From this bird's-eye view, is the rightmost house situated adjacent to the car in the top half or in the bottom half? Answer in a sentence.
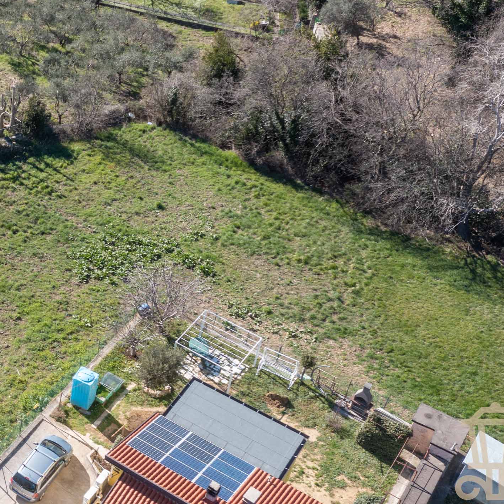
Seen from above, the rightmost house situated adjacent to the car lies in the bottom half of the view.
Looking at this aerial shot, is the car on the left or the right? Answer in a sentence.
It is on the left.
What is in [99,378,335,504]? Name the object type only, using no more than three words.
house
